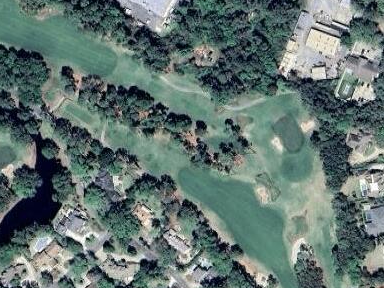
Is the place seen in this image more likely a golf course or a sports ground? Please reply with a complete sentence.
What you see here is a golf course.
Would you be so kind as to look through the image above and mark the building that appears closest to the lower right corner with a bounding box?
[361,204,384,236]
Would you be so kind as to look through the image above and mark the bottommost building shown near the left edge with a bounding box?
[0,262,26,288]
